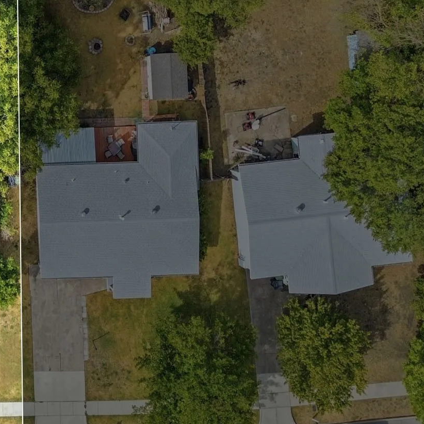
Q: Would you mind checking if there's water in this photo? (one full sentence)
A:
No, the scene doesn't show any water.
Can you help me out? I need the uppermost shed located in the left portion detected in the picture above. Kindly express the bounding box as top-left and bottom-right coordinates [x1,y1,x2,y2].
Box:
[143,52,190,101]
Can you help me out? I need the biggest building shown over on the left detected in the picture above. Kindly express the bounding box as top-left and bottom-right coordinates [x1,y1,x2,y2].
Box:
[35,120,201,299]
